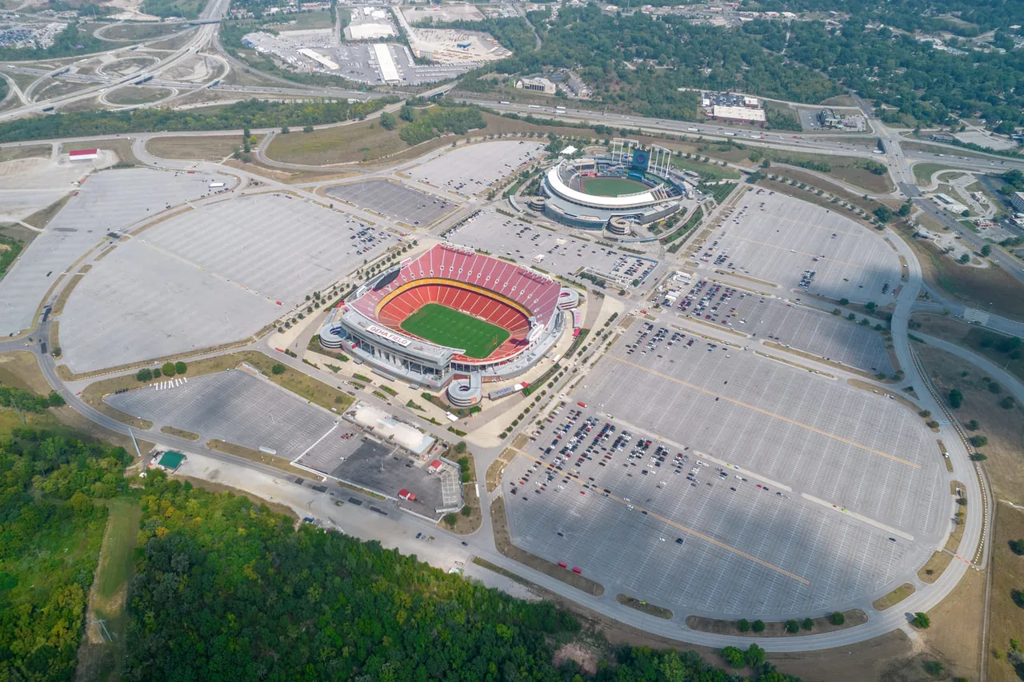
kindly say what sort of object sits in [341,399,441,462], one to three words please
building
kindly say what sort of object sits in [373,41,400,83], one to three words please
building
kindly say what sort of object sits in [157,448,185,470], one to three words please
shed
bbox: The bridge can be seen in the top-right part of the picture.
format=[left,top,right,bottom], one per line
[870,120,910,170]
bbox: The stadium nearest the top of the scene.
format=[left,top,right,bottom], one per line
[527,145,698,230]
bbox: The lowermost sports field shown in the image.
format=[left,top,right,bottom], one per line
[400,303,511,358]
